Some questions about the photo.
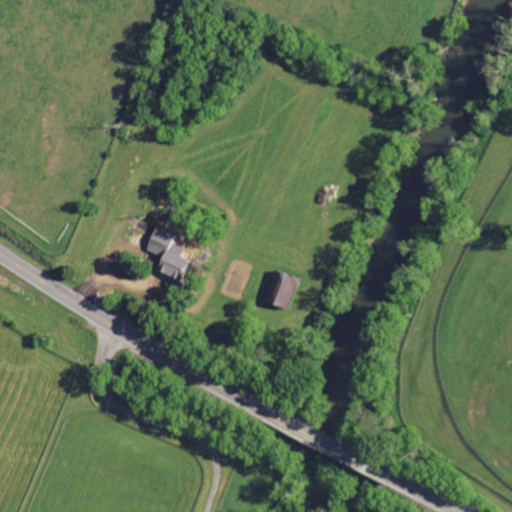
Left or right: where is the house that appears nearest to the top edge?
left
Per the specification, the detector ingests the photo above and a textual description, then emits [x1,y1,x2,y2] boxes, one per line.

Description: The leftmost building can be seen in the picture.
[145,228,188,275]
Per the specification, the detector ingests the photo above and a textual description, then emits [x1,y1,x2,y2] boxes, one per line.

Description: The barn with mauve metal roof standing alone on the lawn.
[266,270,296,308]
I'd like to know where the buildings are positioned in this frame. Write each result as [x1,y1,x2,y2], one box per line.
[145,228,188,275]
[266,270,296,308]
